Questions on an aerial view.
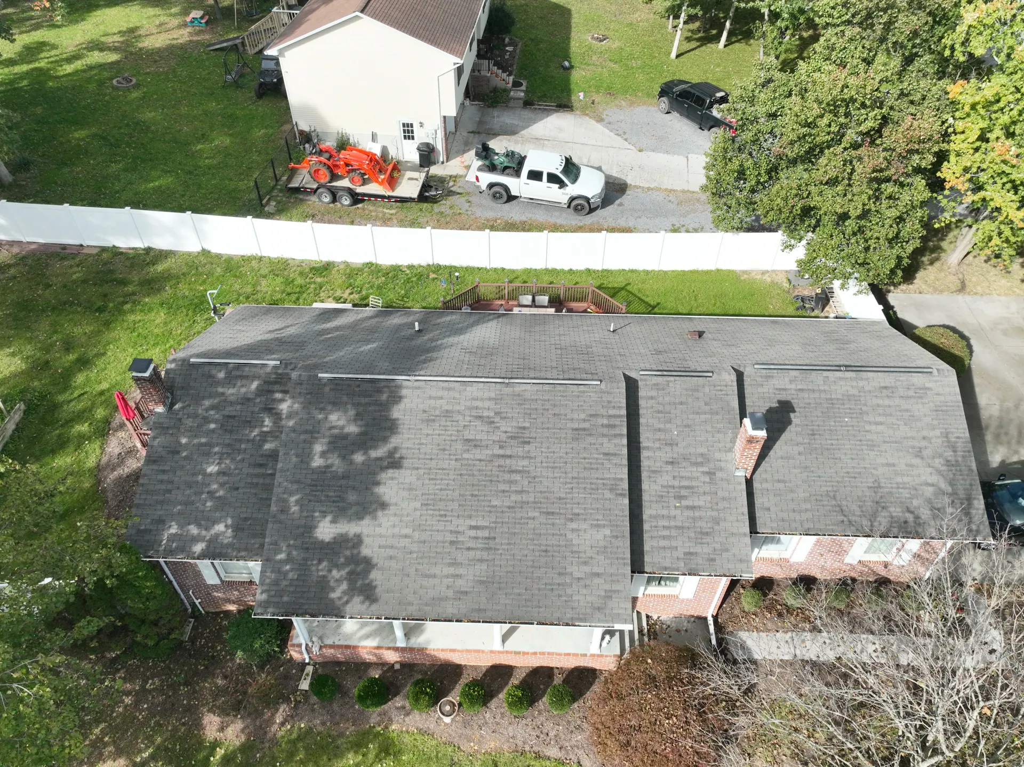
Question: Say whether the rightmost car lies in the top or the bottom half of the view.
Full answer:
You can find the rightmost car in the bottom half.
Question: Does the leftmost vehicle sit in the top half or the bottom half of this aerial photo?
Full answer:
It is in the top half that the leftmost vehicle appears.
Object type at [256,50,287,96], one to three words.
vehicle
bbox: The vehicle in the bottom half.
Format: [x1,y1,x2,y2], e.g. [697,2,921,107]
[981,473,1024,552]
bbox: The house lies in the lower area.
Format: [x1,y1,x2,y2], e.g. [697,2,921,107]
[123,305,994,672]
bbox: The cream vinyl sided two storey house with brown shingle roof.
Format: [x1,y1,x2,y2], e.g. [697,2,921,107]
[266,0,520,163]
